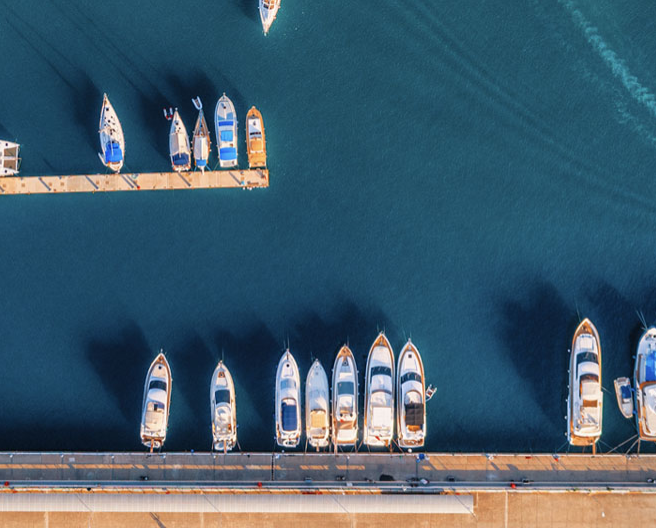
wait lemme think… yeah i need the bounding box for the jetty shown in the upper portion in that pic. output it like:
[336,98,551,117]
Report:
[0,170,269,195]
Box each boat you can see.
[565,306,608,460]
[203,350,246,459]
[256,0,282,37]
[391,328,434,457]
[213,85,246,171]
[298,345,338,459]
[0,140,20,175]
[241,93,275,172]
[187,95,215,176]
[139,338,175,459]
[425,383,439,399]
[191,94,203,112]
[98,83,133,177]
[167,98,195,176]
[326,333,365,459]
[611,375,633,420]
[635,311,656,458]
[359,314,398,460]
[268,333,307,456]
[163,106,172,122]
